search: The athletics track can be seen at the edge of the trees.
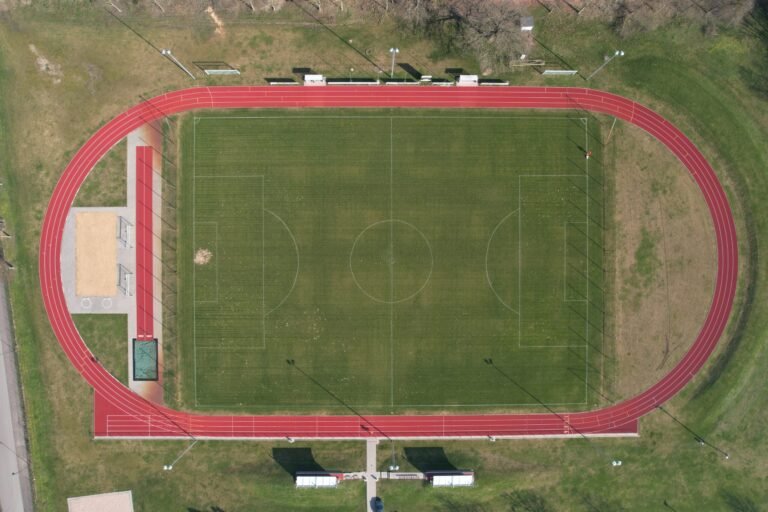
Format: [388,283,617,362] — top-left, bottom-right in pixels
[39,85,739,441]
